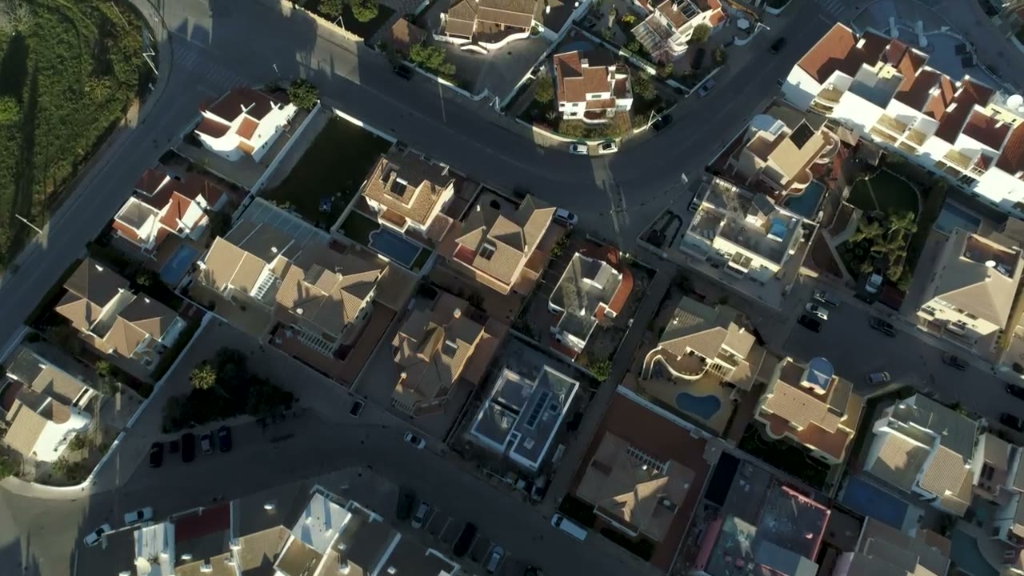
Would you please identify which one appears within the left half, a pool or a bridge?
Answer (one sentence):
It is a pool that can be seen within the left half.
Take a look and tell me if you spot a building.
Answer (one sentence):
Yes, there's a building here.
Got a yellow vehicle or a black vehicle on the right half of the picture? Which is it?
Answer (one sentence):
Visible on the right half of the picture is a black vehicle.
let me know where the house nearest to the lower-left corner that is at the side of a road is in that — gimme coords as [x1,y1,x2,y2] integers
[84,538,142,576]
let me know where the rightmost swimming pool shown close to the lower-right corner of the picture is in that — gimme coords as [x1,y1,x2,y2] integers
[949,527,991,576]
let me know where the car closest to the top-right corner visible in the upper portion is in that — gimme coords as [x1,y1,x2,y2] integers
[769,35,788,55]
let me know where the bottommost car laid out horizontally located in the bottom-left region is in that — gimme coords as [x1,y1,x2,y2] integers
[121,507,153,525]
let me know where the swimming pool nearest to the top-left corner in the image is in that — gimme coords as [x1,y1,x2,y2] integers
[157,245,202,286]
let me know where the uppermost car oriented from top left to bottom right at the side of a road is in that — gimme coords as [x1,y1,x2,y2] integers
[392,62,416,80]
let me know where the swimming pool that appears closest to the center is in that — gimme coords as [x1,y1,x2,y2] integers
[367,224,425,270]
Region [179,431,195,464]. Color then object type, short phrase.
black vehicle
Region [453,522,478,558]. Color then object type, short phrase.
black car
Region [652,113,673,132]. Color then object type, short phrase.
black car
